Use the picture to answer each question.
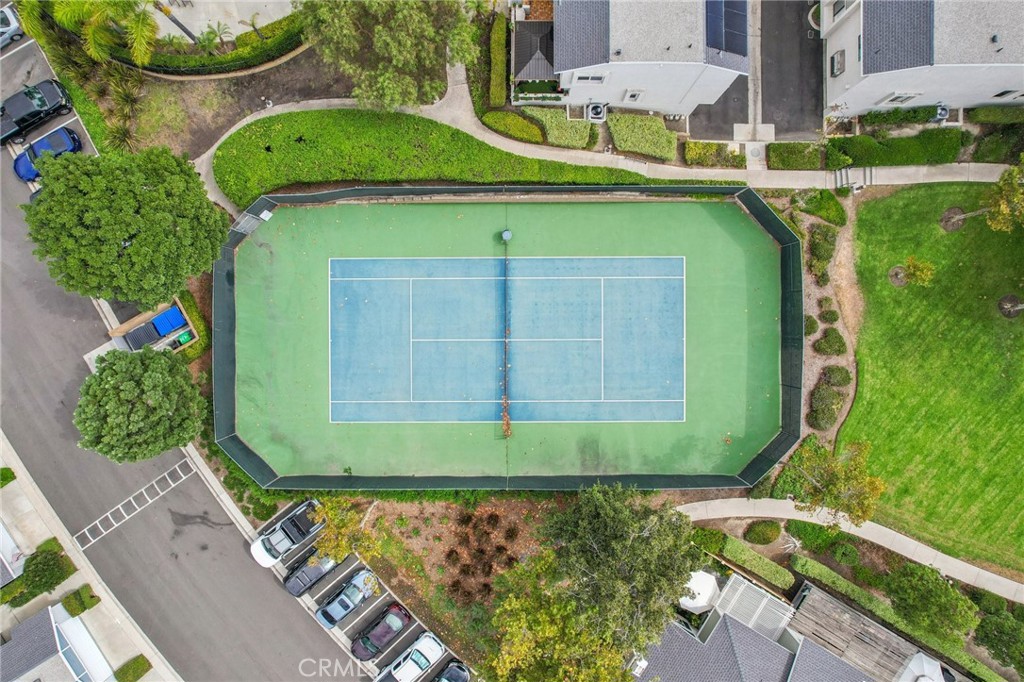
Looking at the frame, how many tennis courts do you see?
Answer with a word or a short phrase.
1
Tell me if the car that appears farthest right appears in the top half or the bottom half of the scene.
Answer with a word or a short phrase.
bottom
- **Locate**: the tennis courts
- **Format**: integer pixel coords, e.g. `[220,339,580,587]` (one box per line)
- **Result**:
[235,197,781,476]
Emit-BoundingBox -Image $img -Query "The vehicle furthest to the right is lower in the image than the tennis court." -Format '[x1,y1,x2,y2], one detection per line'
[427,655,473,682]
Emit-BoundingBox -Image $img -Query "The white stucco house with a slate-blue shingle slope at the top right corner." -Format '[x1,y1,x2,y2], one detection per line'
[821,0,1024,107]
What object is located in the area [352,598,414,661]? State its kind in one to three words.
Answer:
car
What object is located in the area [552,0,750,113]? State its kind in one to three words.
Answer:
house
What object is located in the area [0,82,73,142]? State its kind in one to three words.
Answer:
truck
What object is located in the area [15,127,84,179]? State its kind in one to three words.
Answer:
car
